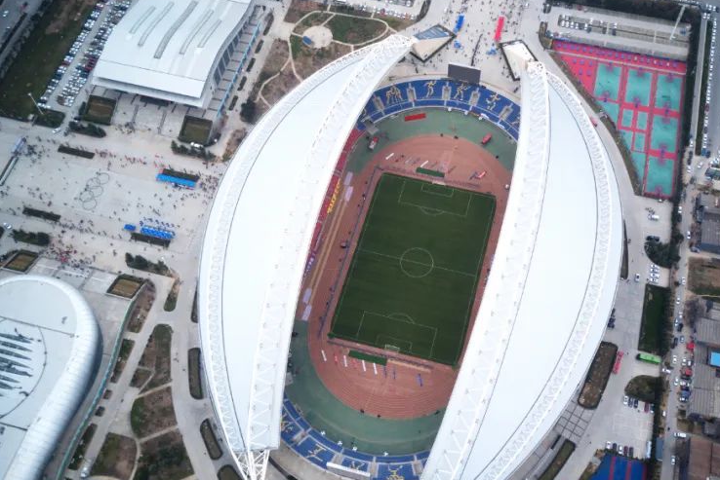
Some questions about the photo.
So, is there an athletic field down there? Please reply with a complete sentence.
Yes, there's an athletic field down there.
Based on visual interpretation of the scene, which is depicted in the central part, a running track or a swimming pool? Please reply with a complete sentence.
Looking in the central part, you will find a running track.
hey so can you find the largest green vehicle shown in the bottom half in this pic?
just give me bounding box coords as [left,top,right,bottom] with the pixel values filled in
[638,350,661,366]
